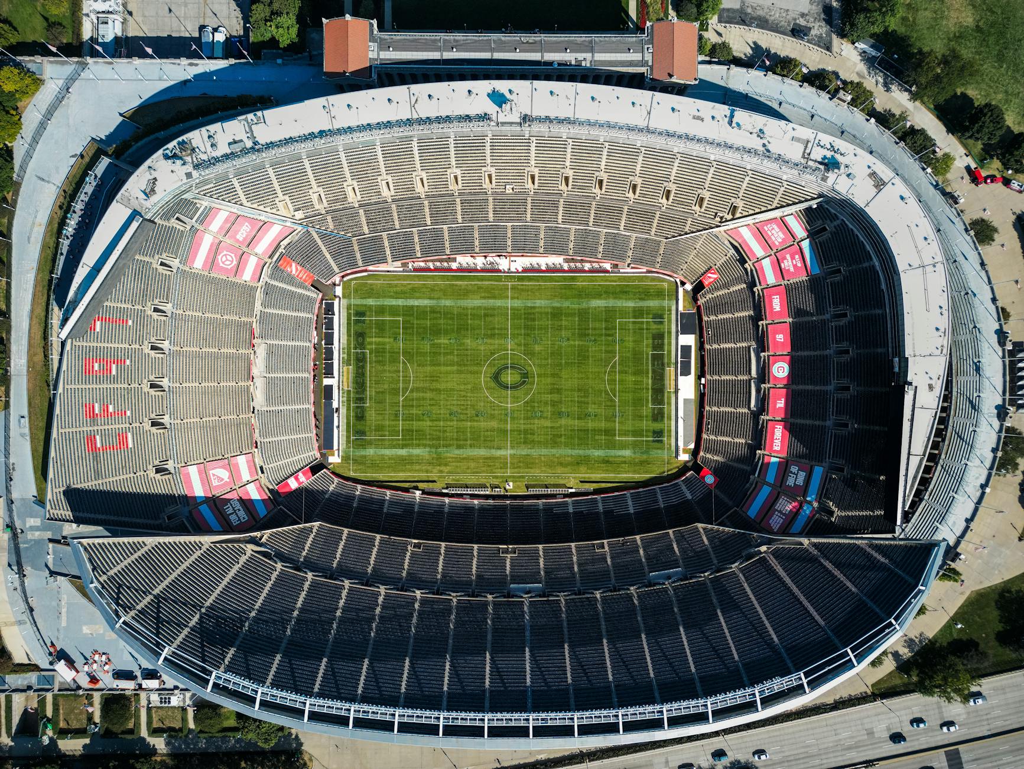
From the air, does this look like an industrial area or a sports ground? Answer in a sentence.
It's a sports ground.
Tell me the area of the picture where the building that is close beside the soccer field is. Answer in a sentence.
The building that is close beside the soccer field is in the top part of the image.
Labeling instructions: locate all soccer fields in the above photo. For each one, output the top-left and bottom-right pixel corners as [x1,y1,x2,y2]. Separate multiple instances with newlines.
[330,272,692,499]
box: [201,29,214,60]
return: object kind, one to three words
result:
vehicle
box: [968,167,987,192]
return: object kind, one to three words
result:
vehicle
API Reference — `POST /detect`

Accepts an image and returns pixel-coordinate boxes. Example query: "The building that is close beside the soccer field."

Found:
[322,9,700,98]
